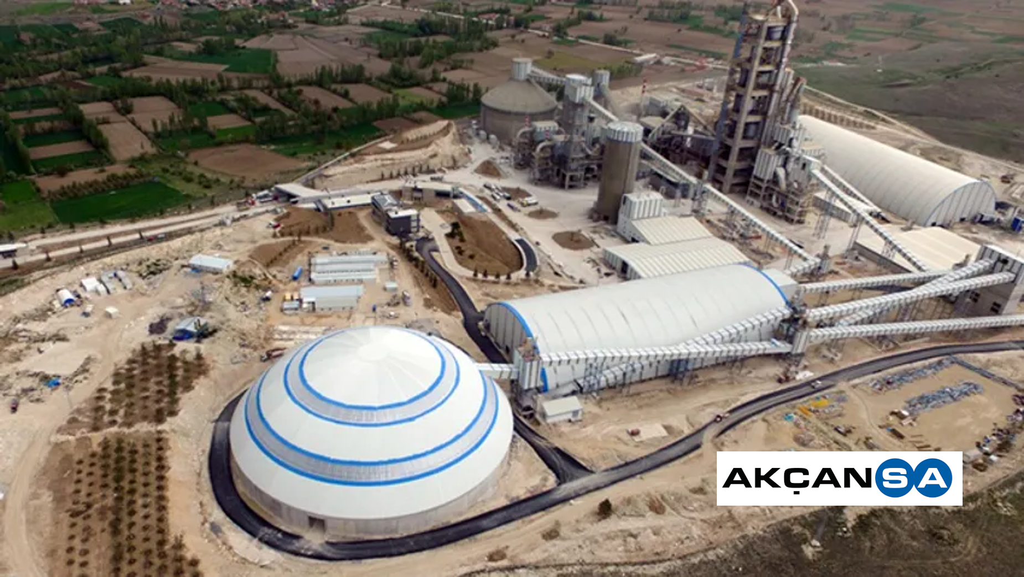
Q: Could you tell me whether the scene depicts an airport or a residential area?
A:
residential area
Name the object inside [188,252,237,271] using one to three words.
shed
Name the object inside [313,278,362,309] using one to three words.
building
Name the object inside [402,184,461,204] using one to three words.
building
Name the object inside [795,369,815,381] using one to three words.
vehicle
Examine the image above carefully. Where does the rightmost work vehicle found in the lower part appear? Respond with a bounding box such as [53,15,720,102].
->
[998,400,1022,418]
